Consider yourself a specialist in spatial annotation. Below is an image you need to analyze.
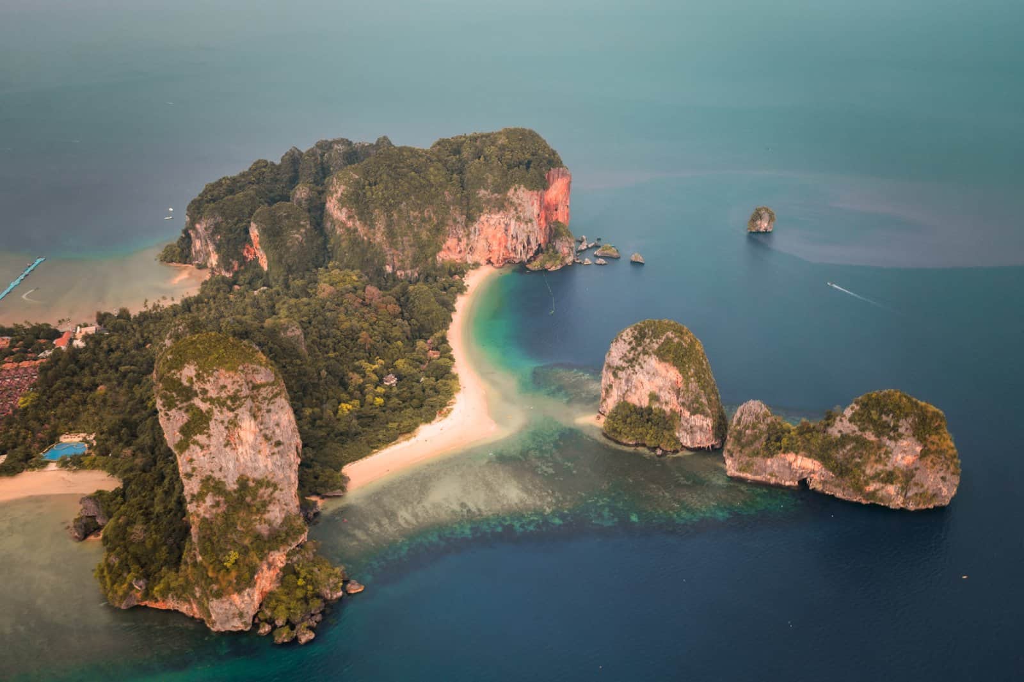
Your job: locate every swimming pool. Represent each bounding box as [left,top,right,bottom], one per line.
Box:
[42,438,86,458]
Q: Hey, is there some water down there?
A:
Yes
